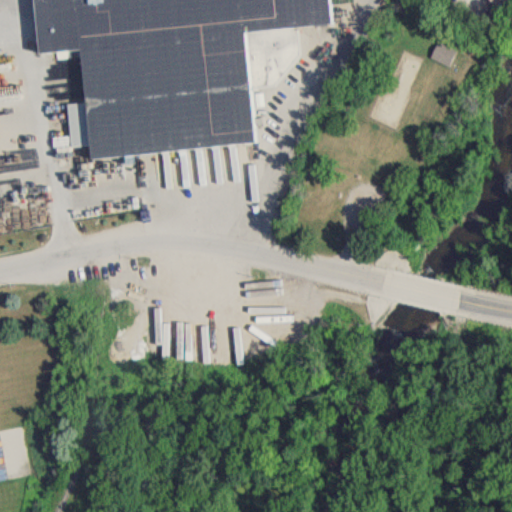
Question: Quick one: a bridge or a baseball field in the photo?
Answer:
bridge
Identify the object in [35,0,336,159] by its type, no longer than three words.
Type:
warehouse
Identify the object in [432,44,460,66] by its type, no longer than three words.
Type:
house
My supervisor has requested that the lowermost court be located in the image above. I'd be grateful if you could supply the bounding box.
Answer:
[0,426,32,478]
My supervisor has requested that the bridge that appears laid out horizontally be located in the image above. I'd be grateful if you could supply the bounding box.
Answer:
[378,271,464,316]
